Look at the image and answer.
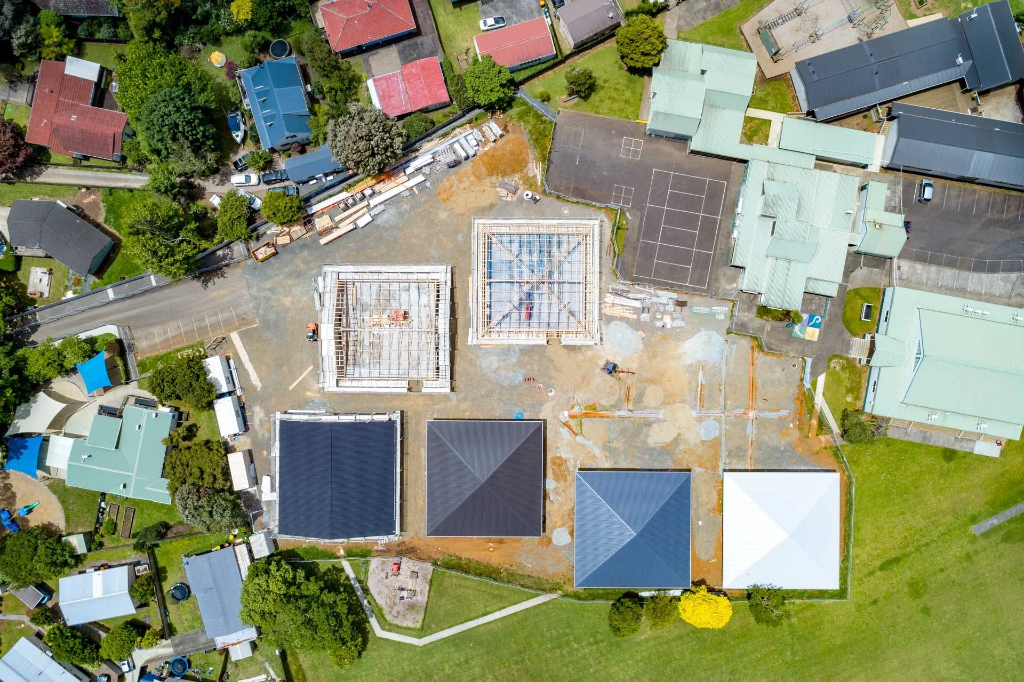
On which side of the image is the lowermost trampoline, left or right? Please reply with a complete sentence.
You can find the lowermost trampoline on the left side of the picture.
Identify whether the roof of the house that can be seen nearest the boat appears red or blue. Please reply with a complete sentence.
The roof of the house that can be seen nearest the boat is blue.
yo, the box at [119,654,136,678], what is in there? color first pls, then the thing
white car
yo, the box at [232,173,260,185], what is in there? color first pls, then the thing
white vehicle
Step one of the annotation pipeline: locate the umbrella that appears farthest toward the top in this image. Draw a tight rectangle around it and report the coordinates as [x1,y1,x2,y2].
[210,51,227,68]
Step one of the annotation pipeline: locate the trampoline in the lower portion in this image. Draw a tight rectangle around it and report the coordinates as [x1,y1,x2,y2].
[167,582,189,602]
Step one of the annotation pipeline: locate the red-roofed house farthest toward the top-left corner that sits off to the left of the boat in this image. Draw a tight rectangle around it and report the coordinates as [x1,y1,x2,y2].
[27,55,133,163]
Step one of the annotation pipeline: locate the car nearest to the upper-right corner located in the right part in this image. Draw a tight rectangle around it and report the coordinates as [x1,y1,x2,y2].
[917,179,932,204]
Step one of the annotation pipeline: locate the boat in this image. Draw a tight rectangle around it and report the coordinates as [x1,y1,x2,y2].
[224,101,242,146]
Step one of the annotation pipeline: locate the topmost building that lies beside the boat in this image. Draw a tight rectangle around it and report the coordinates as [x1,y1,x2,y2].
[236,55,311,150]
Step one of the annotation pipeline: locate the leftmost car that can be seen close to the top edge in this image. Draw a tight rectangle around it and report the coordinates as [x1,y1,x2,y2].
[479,15,505,31]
